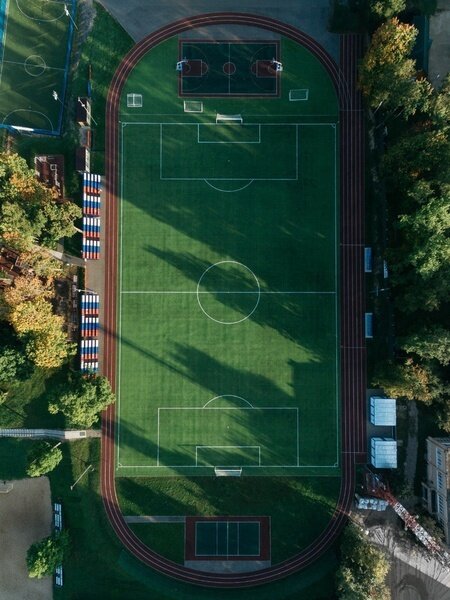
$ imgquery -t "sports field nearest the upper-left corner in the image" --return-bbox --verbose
[0,0,79,134]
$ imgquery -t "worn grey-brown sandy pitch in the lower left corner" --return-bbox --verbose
[0,475,53,600]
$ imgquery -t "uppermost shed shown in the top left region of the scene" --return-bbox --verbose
[75,94,91,127]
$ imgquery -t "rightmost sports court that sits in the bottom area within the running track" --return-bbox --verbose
[185,516,271,561]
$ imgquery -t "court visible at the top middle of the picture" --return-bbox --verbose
[179,40,279,97]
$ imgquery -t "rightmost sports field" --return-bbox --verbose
[114,34,342,476]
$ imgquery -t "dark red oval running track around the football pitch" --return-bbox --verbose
[101,12,366,587]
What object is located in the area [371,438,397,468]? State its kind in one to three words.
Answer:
shed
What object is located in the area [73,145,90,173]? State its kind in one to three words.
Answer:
shed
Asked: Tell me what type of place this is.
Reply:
sports ground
